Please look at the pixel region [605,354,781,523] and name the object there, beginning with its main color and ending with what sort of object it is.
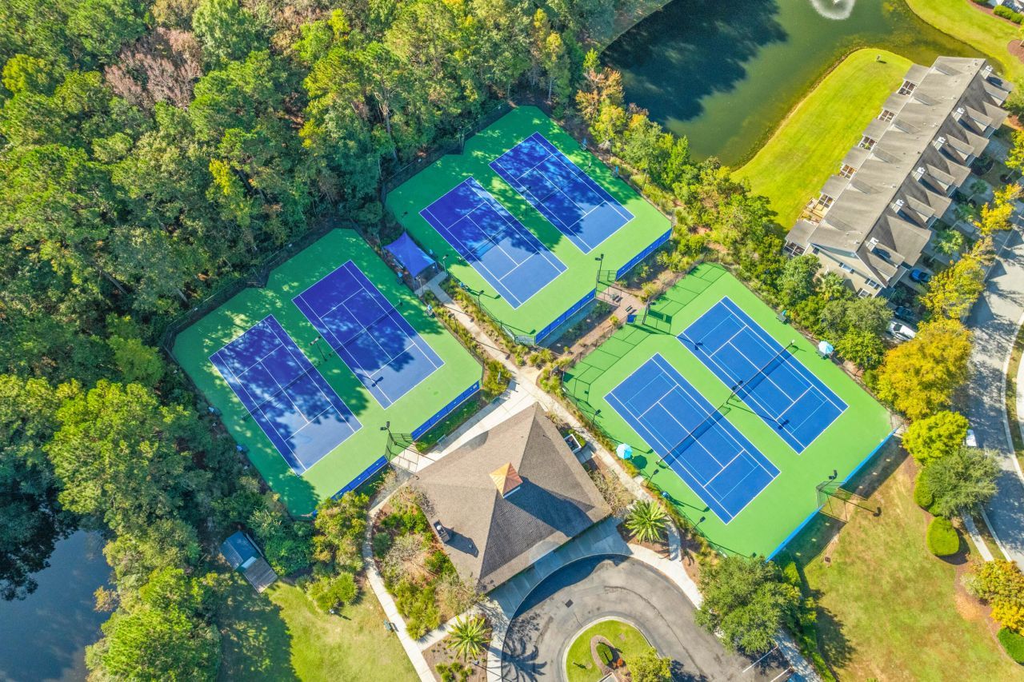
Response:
blue tennis court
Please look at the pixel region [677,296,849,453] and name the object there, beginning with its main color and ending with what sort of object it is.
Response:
blue tennis court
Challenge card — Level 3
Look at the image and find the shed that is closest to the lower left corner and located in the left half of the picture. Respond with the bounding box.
[220,531,258,571]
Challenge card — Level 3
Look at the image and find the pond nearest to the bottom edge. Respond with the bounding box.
[0,490,116,682]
